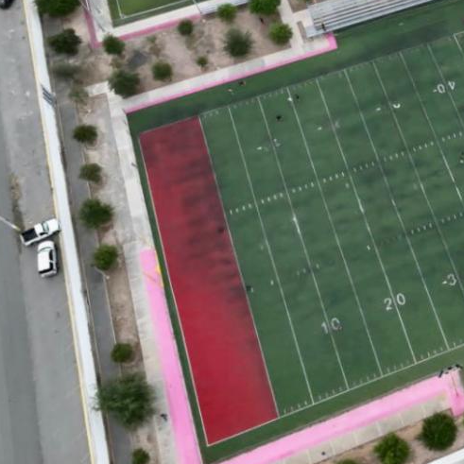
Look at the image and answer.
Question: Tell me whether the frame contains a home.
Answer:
No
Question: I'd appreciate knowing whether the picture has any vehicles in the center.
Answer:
No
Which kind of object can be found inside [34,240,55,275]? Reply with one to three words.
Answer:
car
